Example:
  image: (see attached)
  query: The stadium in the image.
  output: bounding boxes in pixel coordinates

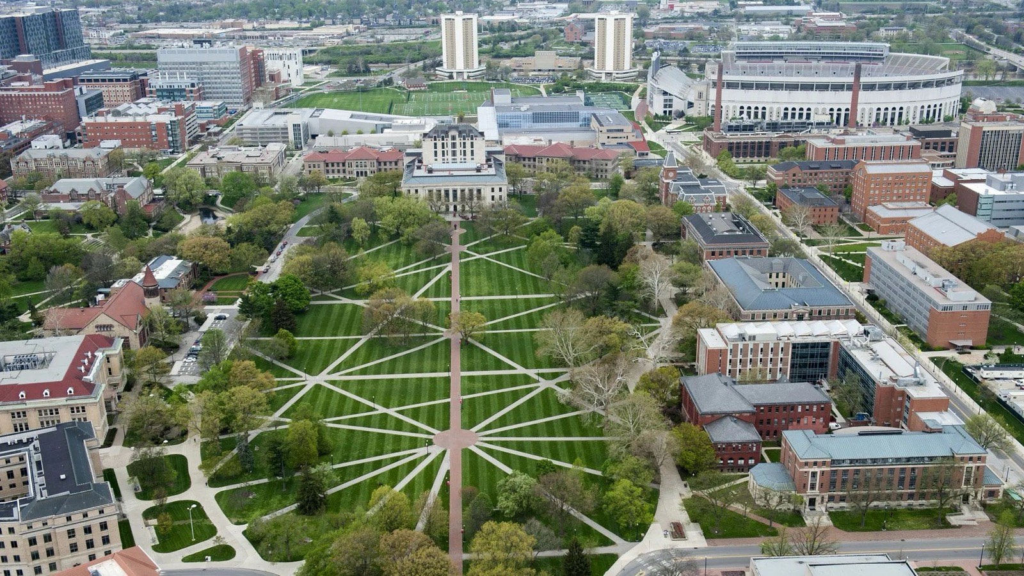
[645,41,967,126]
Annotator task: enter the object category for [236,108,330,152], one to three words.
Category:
building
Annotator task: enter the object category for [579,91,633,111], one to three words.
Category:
tennis court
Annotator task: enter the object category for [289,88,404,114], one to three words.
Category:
sports field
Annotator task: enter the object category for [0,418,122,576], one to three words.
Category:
building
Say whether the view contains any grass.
Yes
